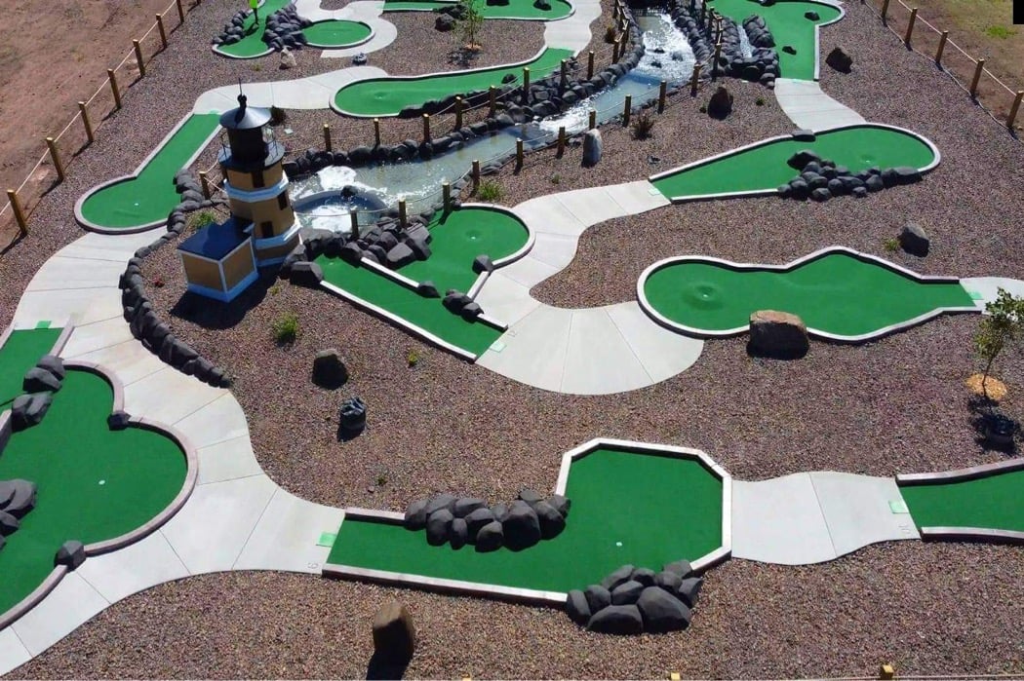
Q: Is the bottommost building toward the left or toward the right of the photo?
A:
left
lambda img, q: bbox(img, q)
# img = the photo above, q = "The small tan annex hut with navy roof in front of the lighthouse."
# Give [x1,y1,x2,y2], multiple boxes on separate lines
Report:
[177,225,258,302]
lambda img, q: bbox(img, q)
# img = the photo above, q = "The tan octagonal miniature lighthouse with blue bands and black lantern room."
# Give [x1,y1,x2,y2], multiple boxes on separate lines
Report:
[218,78,301,266]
